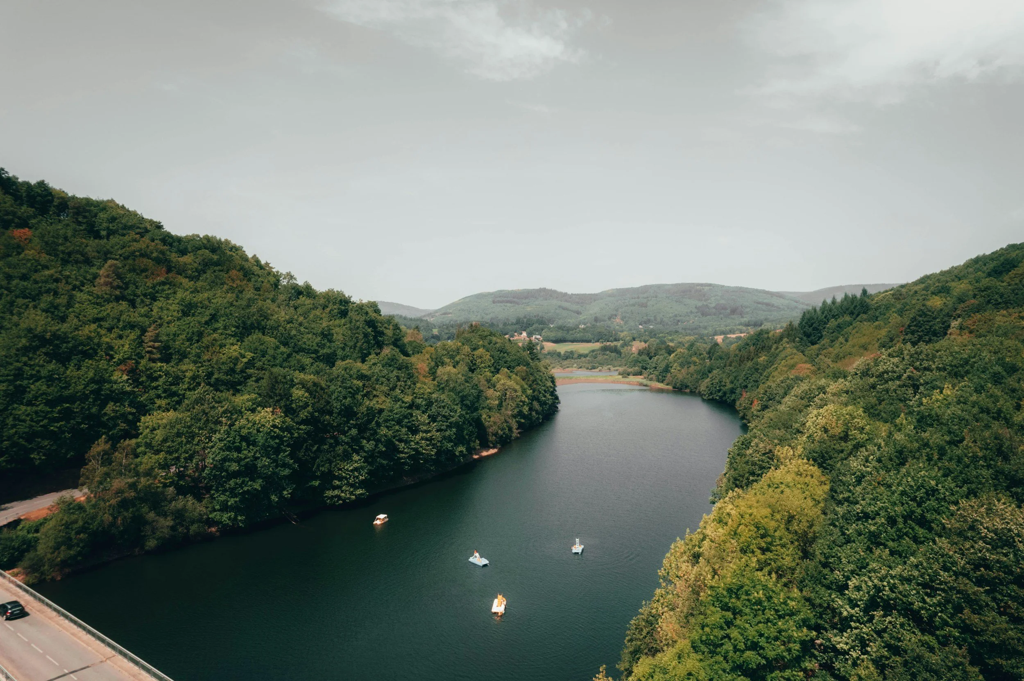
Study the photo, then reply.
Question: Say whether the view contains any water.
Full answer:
Yes, there's water in this view.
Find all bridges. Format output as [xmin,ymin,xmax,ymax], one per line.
[0,572,170,681]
